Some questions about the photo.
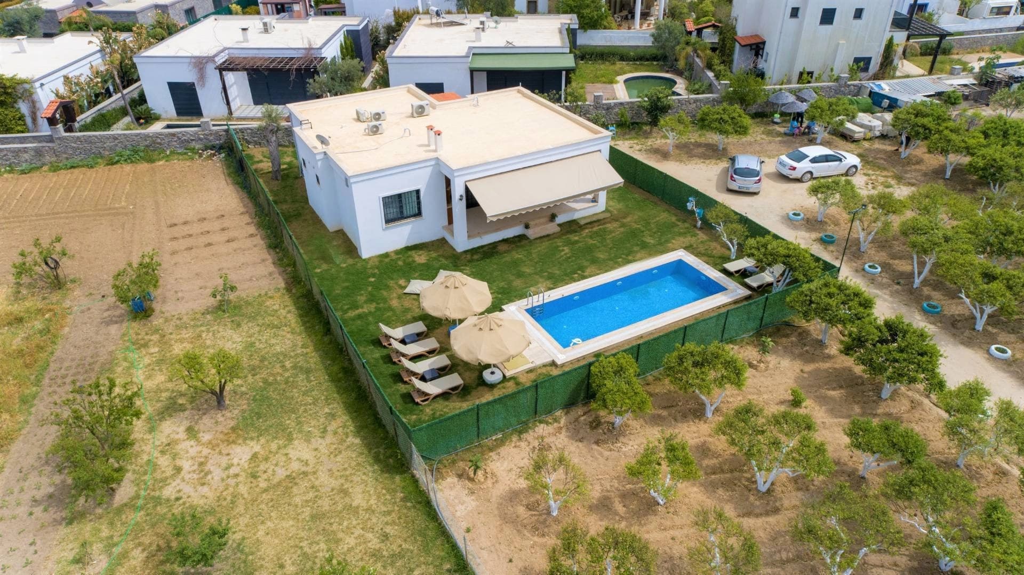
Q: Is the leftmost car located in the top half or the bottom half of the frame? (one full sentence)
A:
The leftmost car is in the top half of the image.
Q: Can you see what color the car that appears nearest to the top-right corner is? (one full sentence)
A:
The car that appears nearest to the top-right corner looks white in the image.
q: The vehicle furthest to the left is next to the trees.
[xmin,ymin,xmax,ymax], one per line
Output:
[725,150,767,191]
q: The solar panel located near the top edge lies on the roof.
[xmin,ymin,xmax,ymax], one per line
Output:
[439,11,470,28]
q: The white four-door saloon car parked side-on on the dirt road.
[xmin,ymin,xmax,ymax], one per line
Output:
[774,142,864,182]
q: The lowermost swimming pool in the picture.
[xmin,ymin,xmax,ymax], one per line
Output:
[503,246,750,364]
